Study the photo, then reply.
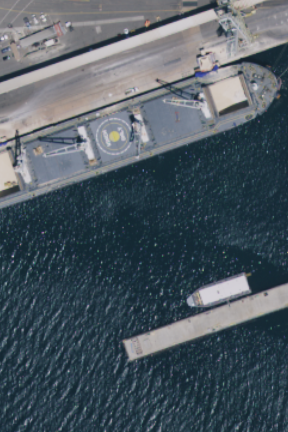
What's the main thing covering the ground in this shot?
water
